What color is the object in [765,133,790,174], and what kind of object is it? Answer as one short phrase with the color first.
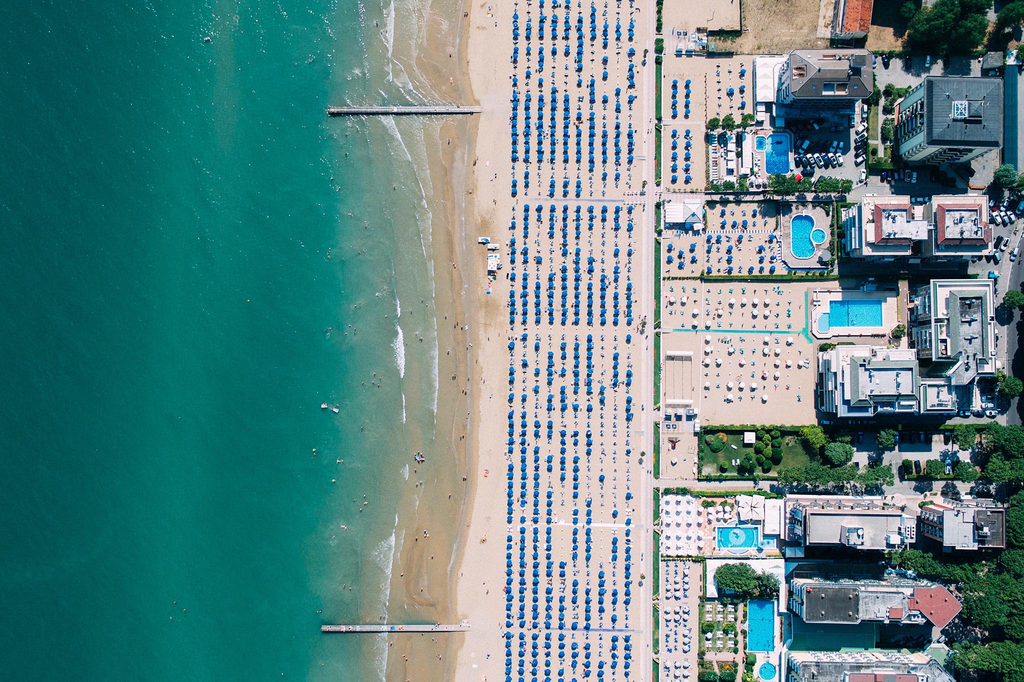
blue swimming pool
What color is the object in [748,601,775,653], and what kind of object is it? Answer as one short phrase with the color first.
blue swimming pool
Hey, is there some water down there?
Yes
